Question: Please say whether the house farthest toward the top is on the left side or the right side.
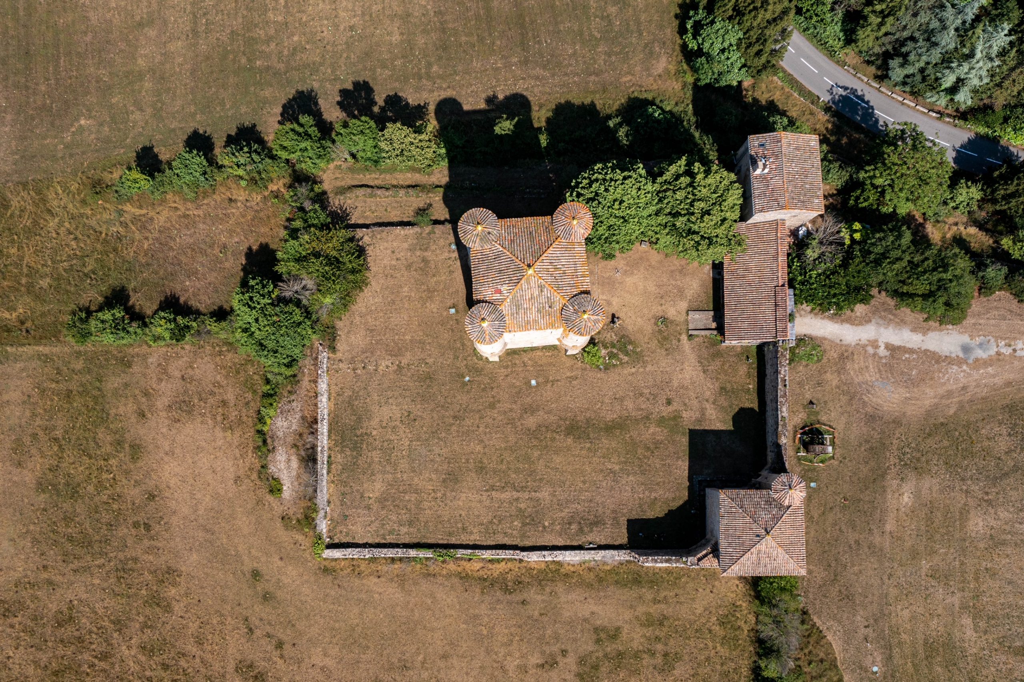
right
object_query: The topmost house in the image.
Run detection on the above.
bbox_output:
[734,131,825,228]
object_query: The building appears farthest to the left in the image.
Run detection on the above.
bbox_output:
[457,200,606,357]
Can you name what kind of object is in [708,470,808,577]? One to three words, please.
building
